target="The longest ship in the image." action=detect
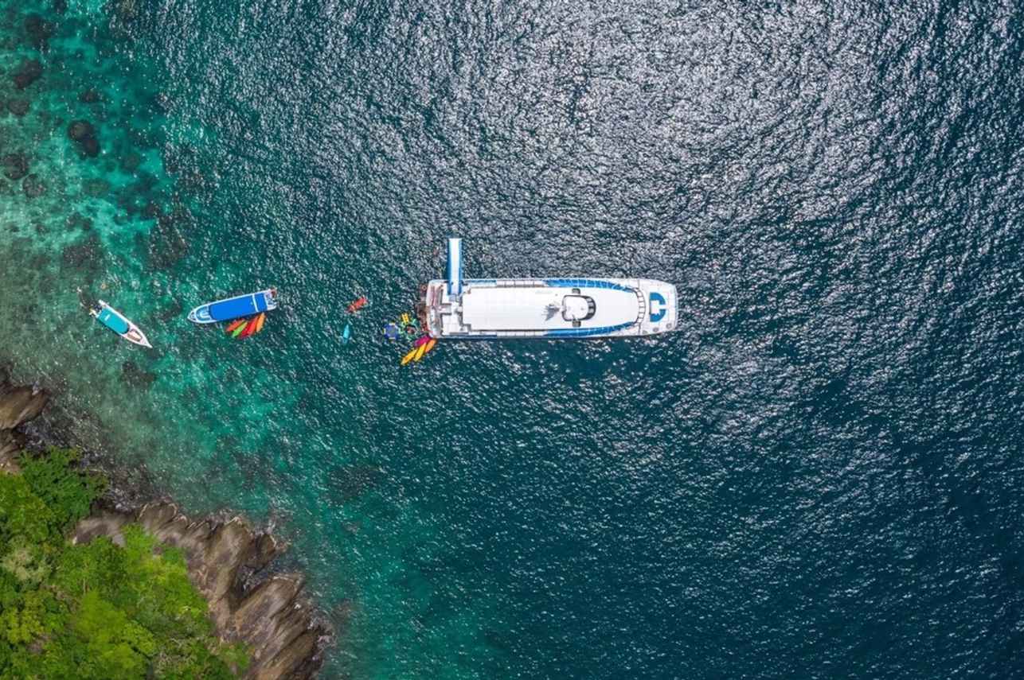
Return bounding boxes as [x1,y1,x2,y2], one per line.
[418,278,679,338]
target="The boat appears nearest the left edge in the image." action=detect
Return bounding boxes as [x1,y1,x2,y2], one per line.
[91,297,155,349]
